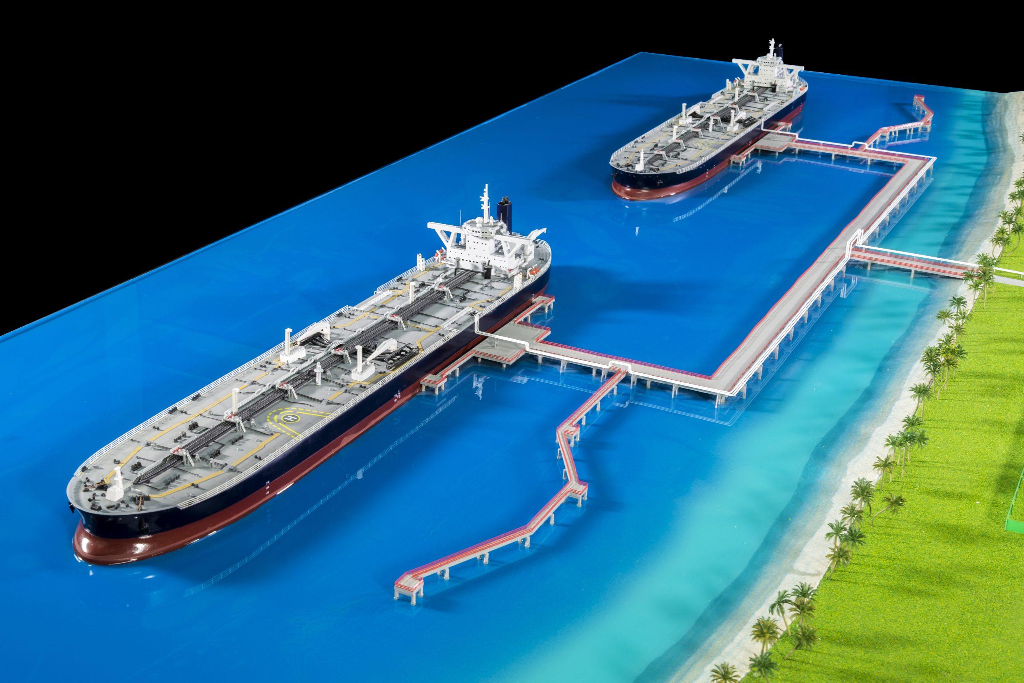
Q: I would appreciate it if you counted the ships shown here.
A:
two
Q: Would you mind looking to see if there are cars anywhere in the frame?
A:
No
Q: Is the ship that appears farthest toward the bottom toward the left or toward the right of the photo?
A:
left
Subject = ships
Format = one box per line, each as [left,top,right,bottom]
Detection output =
[70,184,551,563]
[609,31,812,200]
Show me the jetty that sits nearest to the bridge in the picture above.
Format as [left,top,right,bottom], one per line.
[707,160,927,394]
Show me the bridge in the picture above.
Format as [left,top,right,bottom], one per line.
[845,249,1024,291]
